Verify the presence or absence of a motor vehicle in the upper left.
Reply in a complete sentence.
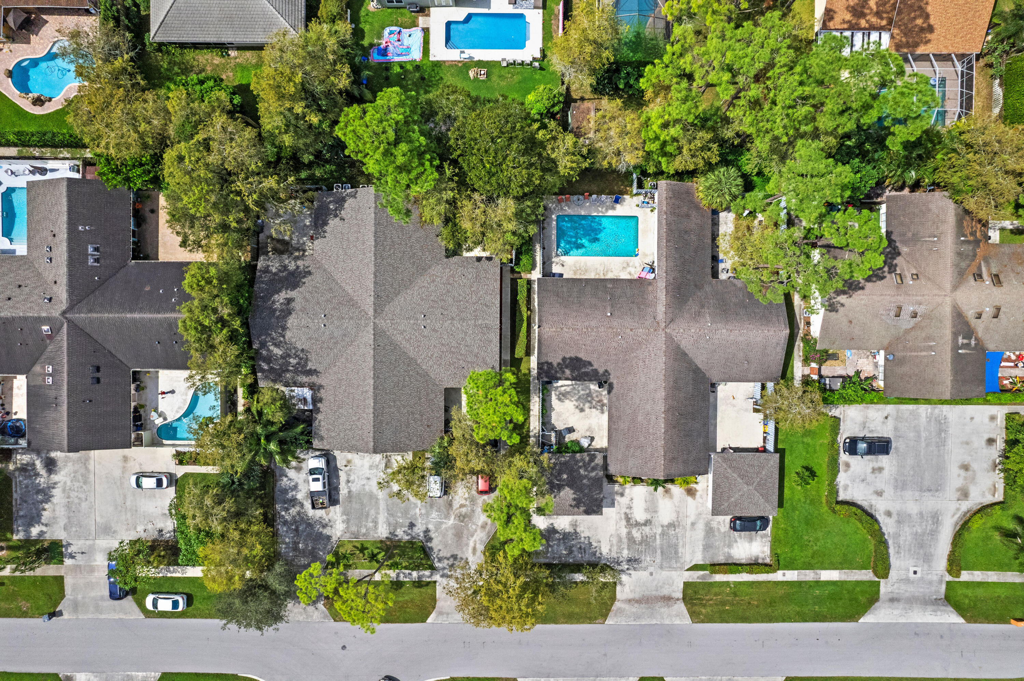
No, in the upper left there is no motor vehicle.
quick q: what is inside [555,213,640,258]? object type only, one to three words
swimming pool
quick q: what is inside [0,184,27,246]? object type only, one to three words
swimming pool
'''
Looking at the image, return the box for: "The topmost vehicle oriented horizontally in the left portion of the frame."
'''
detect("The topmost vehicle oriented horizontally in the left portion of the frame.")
[128,471,171,491]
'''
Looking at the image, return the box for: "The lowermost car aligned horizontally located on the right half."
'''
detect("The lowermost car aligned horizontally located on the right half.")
[729,515,767,533]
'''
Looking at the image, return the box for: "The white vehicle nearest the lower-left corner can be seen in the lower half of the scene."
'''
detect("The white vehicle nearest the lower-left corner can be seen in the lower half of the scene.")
[145,592,187,613]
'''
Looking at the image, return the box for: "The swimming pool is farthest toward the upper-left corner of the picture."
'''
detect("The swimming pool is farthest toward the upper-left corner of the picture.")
[8,35,102,101]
